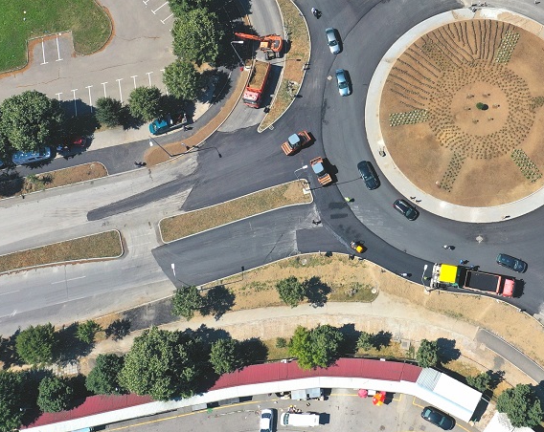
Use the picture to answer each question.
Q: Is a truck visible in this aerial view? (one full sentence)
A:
Yes, a truck is visible in the scene.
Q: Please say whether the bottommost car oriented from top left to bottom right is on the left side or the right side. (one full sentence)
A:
You can find the bottommost car oriented from top left to bottom right on the right side of the picture.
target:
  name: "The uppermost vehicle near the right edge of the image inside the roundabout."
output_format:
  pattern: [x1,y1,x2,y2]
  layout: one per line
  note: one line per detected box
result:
[497,251,527,273]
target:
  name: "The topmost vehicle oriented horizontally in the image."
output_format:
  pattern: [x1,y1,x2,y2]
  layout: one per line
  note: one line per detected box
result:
[234,37,288,58]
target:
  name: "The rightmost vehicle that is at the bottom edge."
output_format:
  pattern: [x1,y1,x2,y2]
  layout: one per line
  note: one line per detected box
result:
[421,405,453,432]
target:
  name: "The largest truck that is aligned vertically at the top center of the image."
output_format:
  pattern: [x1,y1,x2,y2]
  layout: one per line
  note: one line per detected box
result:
[241,56,273,110]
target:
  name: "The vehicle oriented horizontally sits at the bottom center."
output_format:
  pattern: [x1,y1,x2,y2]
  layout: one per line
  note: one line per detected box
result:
[279,411,321,429]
